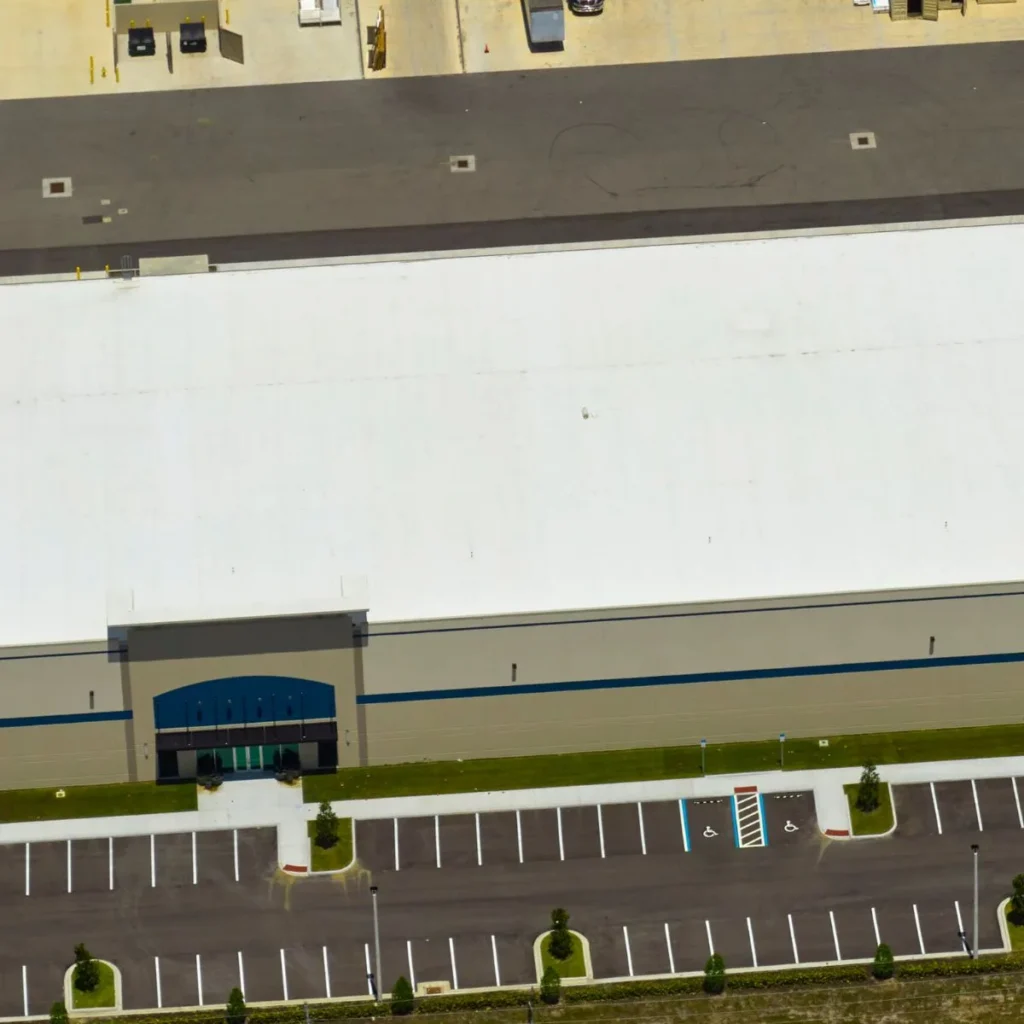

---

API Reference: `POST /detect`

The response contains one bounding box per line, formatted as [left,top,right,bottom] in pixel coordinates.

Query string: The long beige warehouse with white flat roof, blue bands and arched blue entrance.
[0,224,1024,790]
